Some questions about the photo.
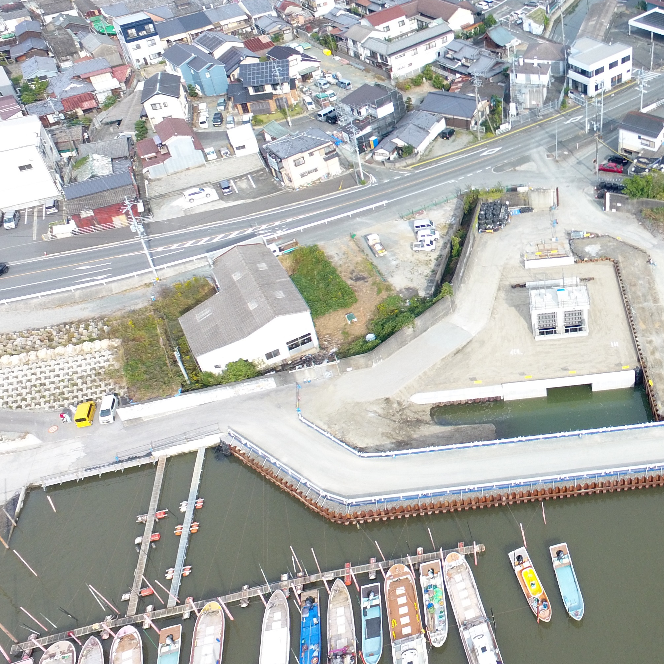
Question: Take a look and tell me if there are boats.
Yes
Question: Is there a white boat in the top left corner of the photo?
No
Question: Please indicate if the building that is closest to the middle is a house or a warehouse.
warehouse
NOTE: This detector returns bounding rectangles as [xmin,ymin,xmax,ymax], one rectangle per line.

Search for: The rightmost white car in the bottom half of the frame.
[96,393,121,425]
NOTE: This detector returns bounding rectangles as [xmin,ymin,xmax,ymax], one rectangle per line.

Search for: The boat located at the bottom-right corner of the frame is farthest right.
[550,542,583,624]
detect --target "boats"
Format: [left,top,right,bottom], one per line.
[37,636,80,664]
[325,575,361,664]
[299,589,321,664]
[361,583,383,664]
[80,633,107,664]
[107,622,149,664]
[550,542,583,624]
[188,599,230,664]
[259,588,294,664]
[509,548,548,626]
[383,561,429,664]
[444,549,501,664]
[422,560,446,651]
[156,624,183,664]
